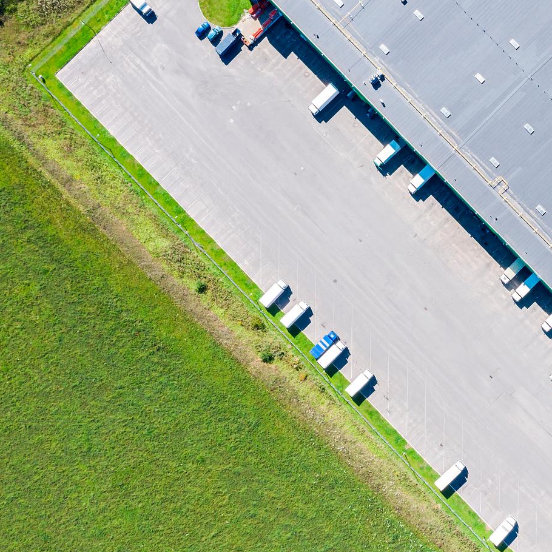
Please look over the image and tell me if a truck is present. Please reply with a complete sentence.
Yes, the image includes a truck.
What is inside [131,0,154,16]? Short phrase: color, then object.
white vehicle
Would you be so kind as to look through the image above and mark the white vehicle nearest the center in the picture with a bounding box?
[260,278,290,307]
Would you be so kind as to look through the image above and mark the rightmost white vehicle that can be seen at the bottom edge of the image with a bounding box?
[490,514,517,544]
